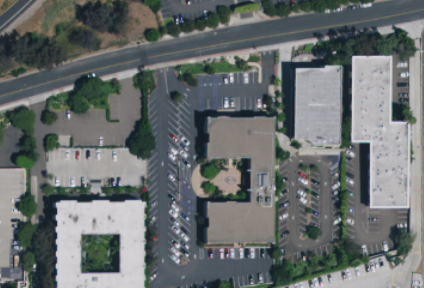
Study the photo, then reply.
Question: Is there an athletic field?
No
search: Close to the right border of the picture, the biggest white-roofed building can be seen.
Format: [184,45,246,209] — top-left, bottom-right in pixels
[347,56,409,208]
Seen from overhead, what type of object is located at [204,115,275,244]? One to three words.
building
